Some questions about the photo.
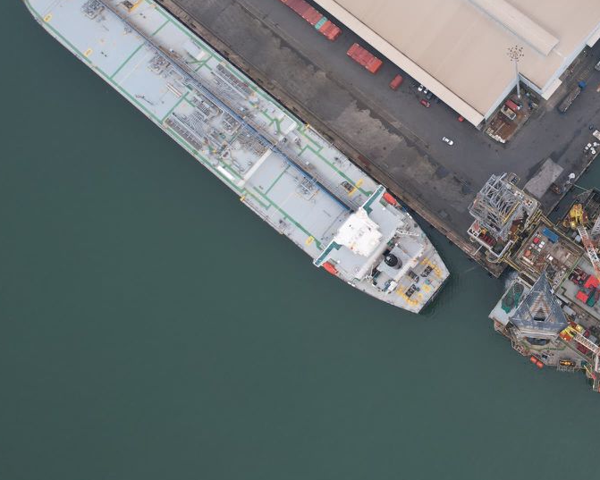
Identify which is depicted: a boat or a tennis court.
boat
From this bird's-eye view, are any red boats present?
Yes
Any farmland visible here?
No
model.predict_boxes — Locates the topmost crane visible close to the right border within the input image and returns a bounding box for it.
[573,199,600,281]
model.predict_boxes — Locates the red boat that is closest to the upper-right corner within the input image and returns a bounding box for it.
[382,190,400,210]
